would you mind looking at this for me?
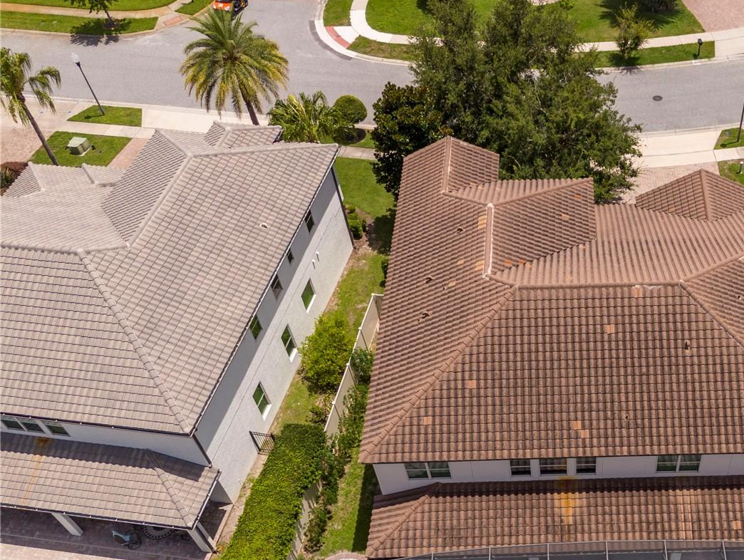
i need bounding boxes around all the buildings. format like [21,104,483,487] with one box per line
[0,118,345,556]
[354,134,744,560]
